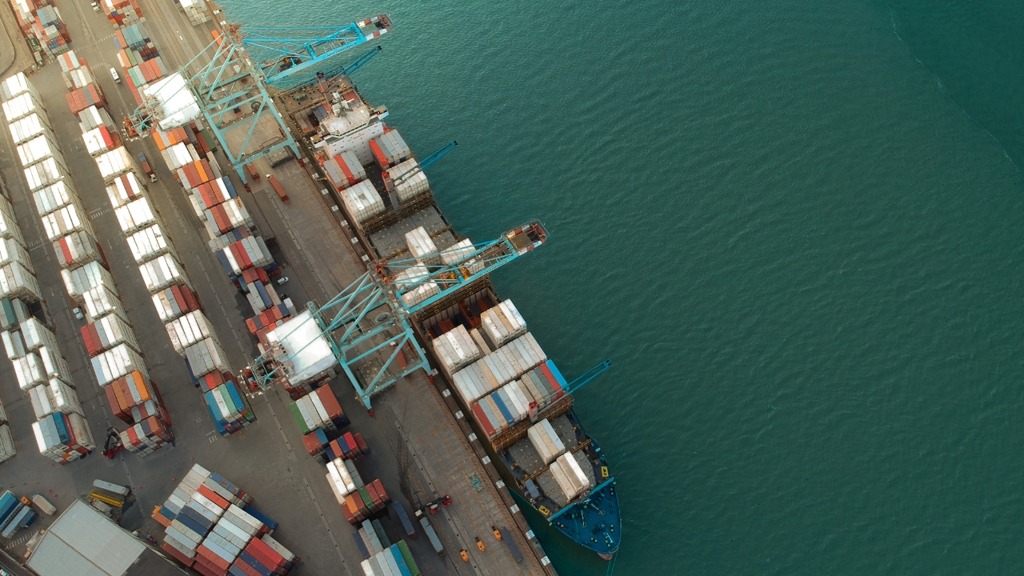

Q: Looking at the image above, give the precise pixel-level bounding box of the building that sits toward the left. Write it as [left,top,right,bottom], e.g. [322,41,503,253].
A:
[24,498,195,576]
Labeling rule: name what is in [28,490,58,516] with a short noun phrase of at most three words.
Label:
truck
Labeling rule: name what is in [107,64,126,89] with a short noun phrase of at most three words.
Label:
vehicle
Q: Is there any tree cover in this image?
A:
No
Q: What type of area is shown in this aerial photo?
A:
port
